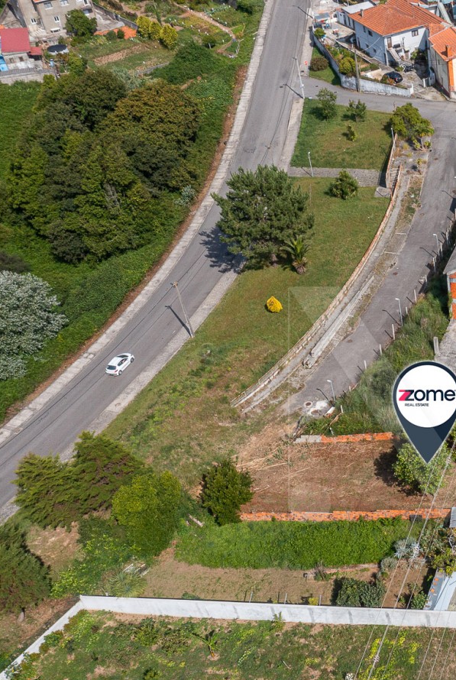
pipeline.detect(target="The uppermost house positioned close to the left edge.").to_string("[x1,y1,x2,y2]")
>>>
[14,0,97,33]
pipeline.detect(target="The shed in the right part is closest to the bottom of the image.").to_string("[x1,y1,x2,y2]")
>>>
[424,570,445,609]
